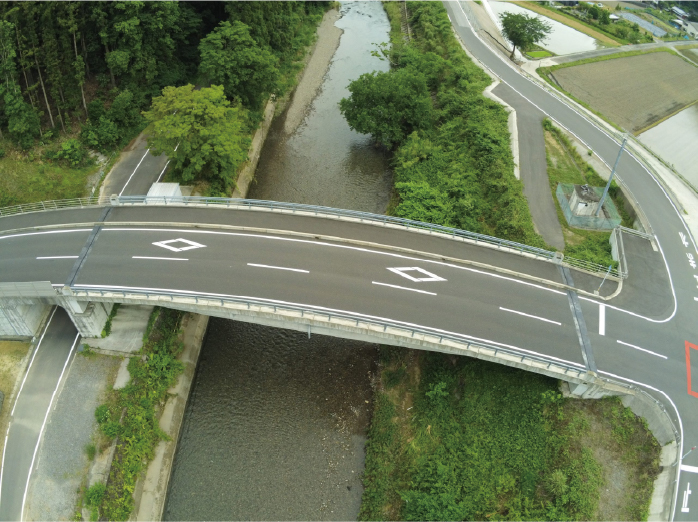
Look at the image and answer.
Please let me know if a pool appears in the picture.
No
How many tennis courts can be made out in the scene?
0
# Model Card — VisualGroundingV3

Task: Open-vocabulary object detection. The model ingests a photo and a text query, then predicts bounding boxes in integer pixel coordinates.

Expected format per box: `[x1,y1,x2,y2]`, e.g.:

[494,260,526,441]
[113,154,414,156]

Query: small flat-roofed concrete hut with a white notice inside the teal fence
[570,184,602,215]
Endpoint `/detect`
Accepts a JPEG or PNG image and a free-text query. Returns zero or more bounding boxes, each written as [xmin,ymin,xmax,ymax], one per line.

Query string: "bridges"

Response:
[0,194,626,401]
